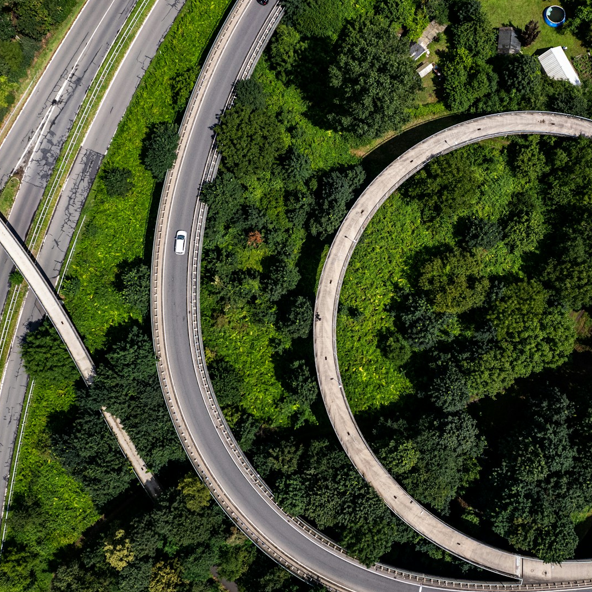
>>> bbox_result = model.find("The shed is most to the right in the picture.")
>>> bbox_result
[536,46,579,91]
